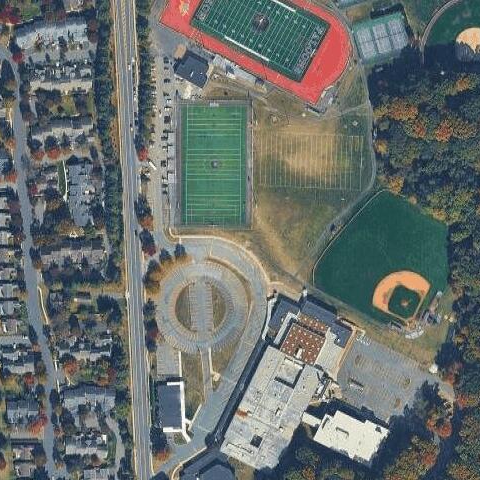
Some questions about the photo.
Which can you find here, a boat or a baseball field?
baseball field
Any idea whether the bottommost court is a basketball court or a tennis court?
tennis court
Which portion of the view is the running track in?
top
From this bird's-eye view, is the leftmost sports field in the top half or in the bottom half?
top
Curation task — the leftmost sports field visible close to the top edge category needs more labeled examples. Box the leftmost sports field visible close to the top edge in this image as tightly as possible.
[190,0,330,82]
